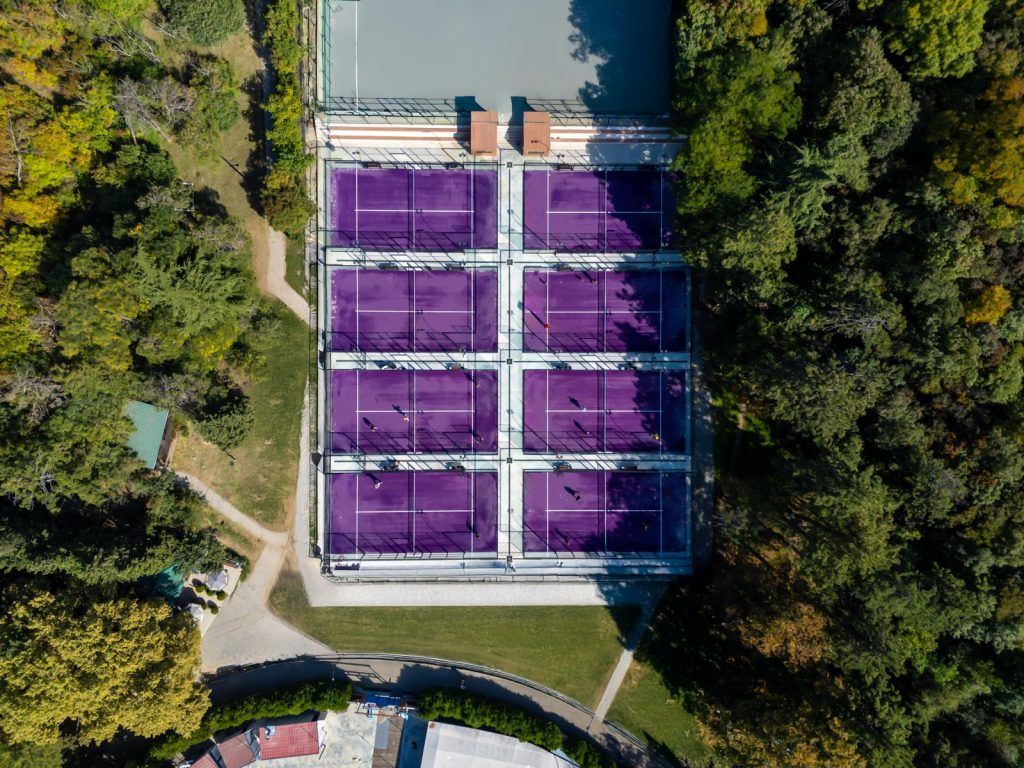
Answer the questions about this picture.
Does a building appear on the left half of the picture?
Yes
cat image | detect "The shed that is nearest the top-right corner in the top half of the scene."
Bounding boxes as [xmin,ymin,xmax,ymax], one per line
[523,111,551,158]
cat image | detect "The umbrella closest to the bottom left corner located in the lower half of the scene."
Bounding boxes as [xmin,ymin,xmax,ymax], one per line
[190,602,208,618]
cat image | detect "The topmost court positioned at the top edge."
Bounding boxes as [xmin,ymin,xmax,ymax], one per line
[331,0,674,118]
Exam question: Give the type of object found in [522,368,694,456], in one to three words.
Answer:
sports court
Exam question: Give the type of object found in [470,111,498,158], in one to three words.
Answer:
shed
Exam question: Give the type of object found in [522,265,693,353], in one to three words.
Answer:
sports court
